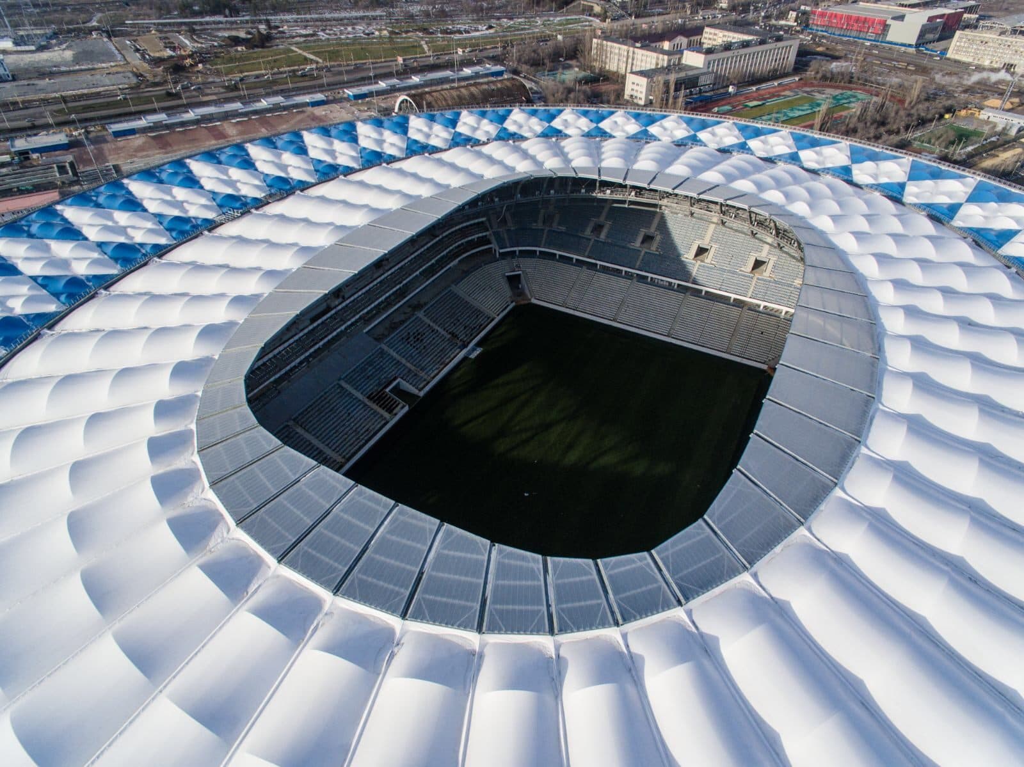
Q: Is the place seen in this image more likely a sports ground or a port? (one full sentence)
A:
This image shows a sports ground.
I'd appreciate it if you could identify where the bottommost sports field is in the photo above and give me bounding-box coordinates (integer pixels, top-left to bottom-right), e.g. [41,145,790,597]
[281,299,770,610]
